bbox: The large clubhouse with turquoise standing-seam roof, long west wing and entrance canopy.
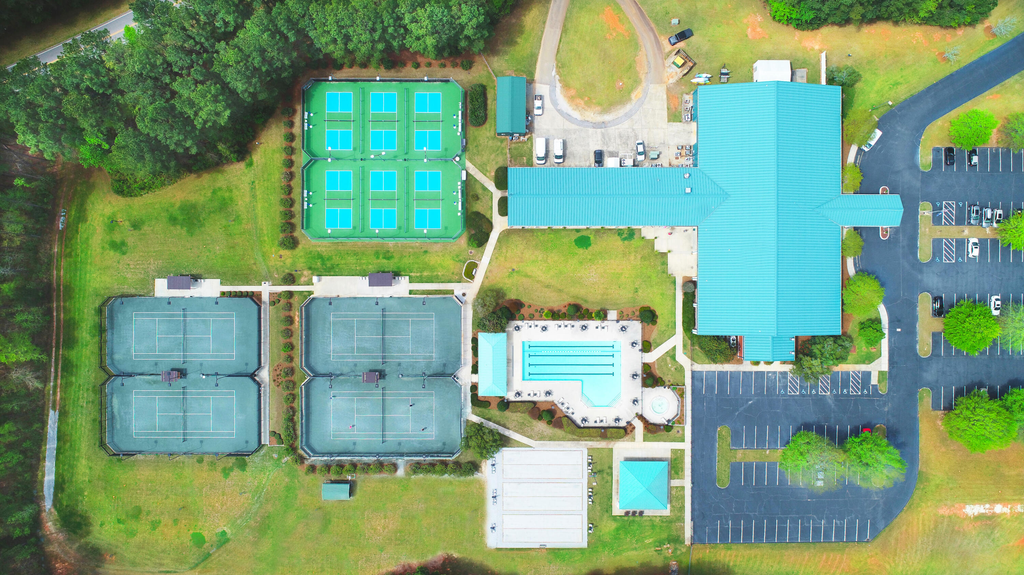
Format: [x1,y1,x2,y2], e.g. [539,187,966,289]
[507,80,904,362]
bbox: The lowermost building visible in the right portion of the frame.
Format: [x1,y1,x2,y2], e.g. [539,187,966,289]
[619,460,668,510]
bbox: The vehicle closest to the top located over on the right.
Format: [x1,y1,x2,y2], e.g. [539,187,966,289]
[668,28,692,45]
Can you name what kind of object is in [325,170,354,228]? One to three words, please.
sports court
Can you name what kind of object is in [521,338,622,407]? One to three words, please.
swimming pool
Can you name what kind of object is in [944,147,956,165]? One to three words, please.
vehicle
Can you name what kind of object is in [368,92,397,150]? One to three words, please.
sports court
